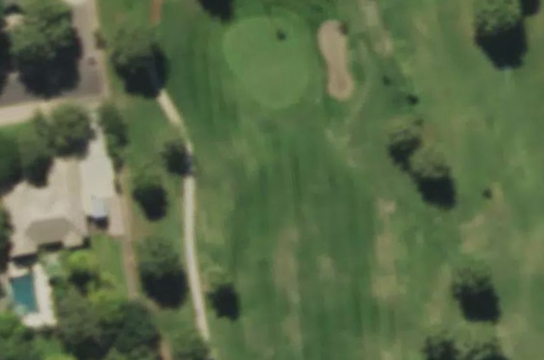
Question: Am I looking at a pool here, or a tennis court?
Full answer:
Visible in the photo is a pool.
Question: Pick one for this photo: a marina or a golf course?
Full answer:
This image shows a golf course.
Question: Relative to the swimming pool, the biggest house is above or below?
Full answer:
Looking at the scene, the biggest house is located above the swimming pool.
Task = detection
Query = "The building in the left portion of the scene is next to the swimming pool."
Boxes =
[2,156,88,258]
